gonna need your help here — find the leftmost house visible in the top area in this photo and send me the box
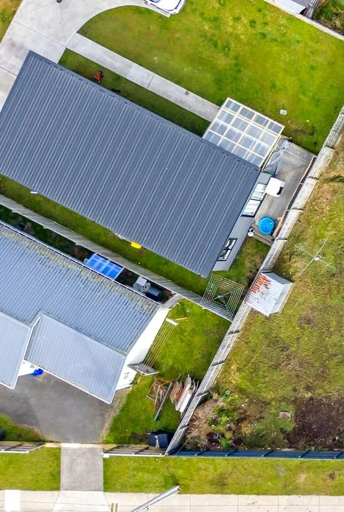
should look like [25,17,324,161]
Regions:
[0,48,269,278]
